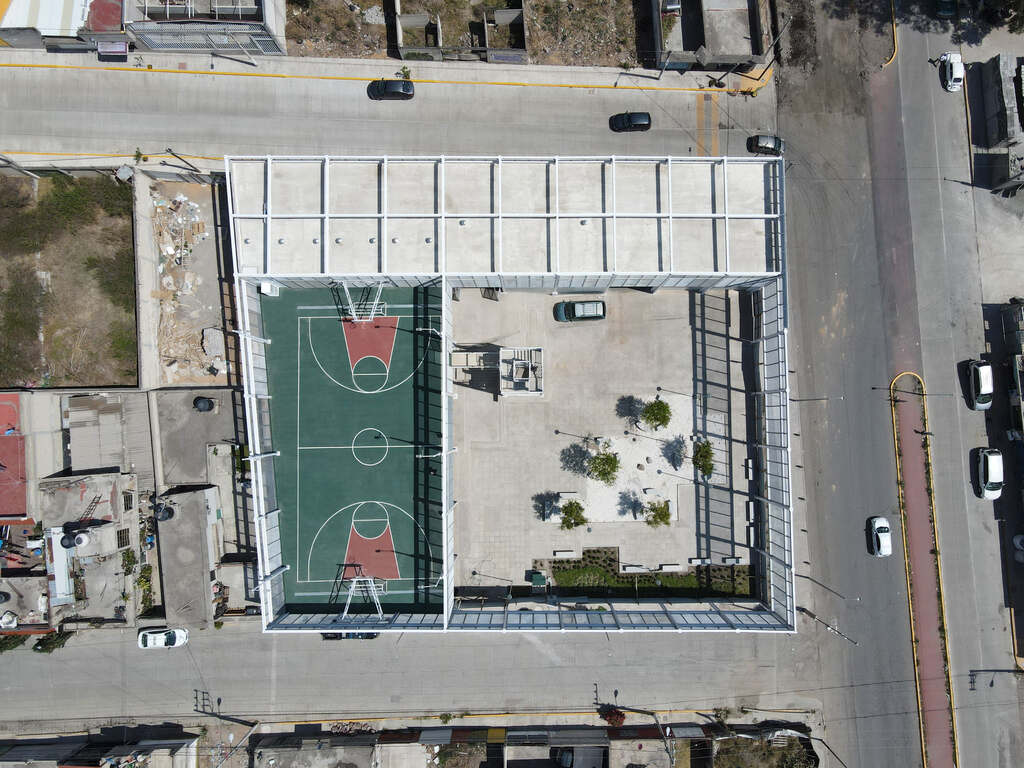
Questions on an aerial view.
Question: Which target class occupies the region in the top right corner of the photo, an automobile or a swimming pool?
automobile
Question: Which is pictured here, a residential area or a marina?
residential area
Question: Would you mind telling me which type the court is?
basketball court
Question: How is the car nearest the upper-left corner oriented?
from side to side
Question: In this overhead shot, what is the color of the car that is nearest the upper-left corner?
black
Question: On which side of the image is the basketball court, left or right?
left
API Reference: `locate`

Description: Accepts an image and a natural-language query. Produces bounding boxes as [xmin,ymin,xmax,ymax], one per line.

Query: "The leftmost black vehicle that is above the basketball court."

[369,78,415,102]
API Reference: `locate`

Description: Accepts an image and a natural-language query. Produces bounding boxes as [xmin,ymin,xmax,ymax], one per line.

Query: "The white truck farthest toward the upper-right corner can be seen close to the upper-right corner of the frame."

[938,53,965,94]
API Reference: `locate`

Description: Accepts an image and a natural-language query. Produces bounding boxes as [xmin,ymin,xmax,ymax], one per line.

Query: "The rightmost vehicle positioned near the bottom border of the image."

[555,745,578,768]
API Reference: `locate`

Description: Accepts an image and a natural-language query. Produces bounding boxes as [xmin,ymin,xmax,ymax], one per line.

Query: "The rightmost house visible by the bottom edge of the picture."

[605,721,667,768]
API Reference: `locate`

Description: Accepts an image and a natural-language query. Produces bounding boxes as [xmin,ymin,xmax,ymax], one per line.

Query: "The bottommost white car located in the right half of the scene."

[867,516,893,558]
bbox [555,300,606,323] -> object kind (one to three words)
car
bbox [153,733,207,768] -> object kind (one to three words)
house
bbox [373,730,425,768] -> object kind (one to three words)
house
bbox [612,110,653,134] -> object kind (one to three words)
car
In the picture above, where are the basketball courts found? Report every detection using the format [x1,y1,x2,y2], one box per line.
[258,288,456,612]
